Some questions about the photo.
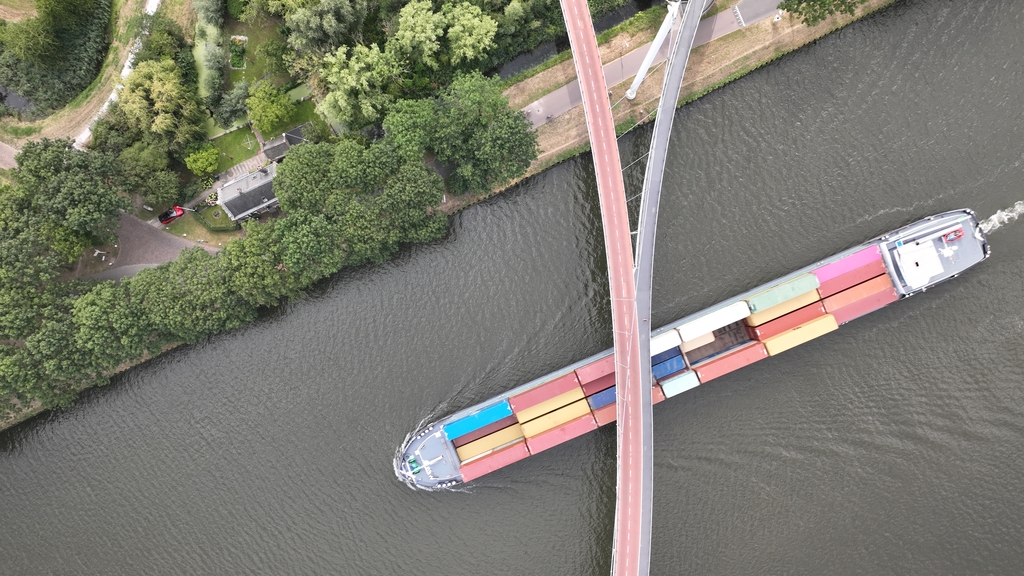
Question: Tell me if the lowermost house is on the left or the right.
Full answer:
The lowermost house is on the left side of the image.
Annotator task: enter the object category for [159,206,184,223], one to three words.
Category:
car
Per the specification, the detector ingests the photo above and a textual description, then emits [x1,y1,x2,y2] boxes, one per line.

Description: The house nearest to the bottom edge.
[213,159,287,222]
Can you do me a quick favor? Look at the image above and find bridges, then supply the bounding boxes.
[559,0,717,576]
